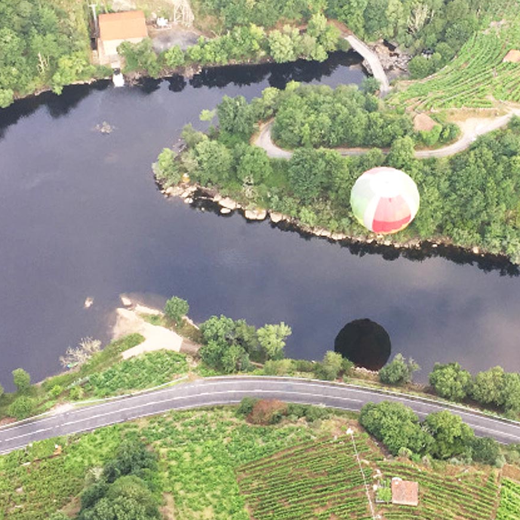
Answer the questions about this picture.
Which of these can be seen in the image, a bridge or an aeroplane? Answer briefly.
bridge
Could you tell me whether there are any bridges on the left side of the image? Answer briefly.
No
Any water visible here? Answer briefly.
Yes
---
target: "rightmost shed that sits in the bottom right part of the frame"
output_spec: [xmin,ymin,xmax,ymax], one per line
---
[391,479,419,507]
